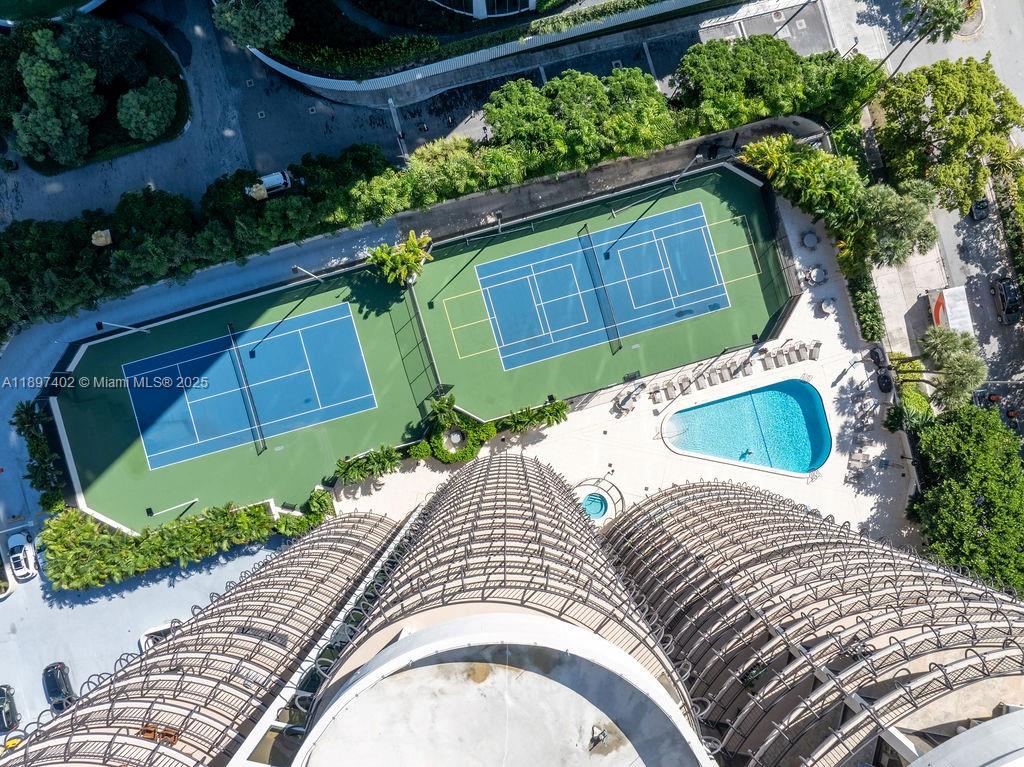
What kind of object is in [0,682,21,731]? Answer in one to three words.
car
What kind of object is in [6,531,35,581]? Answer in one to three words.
car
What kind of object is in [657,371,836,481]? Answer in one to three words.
swimming pool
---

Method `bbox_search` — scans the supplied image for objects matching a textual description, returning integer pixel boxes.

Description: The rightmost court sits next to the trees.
[412,160,801,421]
